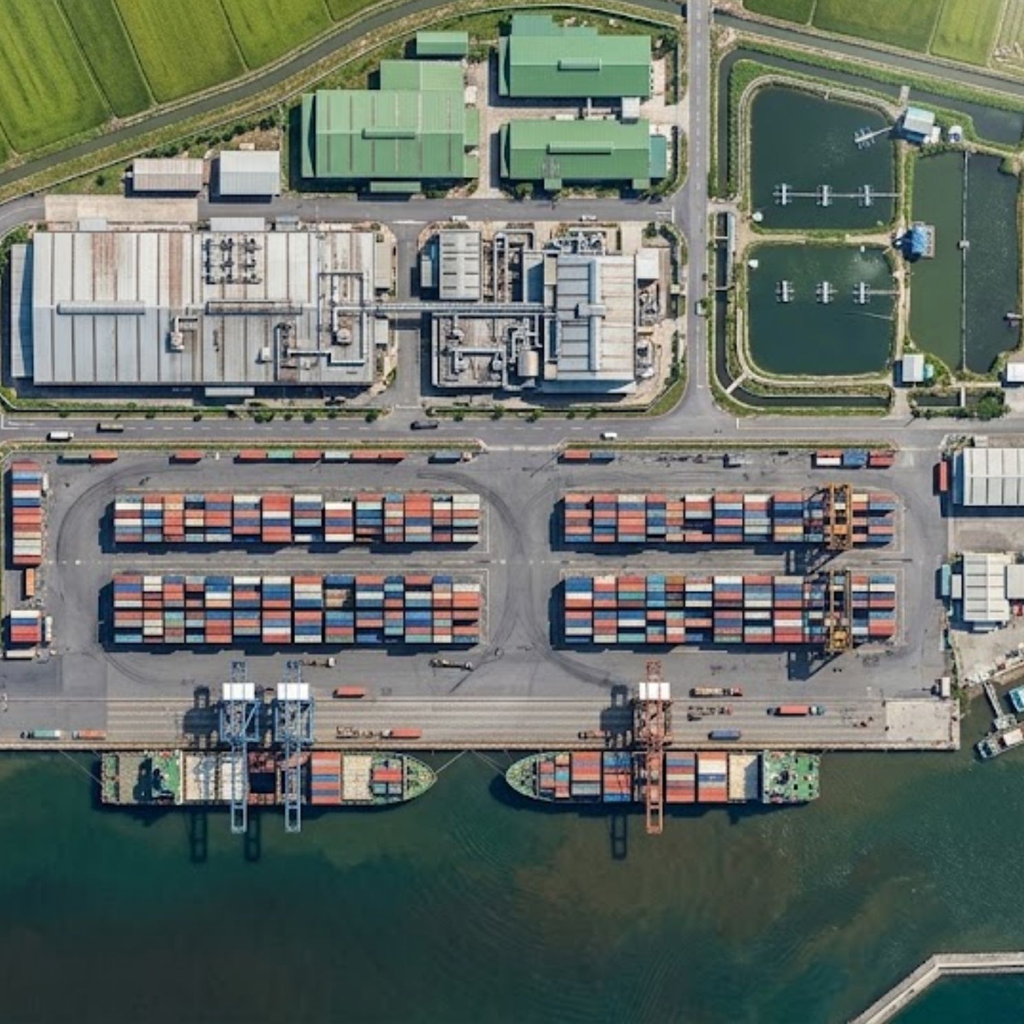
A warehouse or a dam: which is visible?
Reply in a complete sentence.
It is a warehouse that can be seen here.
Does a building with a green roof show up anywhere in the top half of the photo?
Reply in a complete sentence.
Yes, I can see a building with a green roof in the top half of the photo.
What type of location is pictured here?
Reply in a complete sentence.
This looks like a port.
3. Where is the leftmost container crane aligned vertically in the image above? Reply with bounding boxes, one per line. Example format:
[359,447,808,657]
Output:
[216,662,262,834]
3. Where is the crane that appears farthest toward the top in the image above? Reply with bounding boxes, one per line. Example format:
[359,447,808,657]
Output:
[823,483,856,550]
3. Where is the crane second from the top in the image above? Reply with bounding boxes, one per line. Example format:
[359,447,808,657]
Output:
[823,570,856,652]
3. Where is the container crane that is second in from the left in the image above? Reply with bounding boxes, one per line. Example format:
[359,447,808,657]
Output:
[270,662,315,834]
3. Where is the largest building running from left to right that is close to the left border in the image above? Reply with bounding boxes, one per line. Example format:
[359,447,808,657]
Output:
[11,217,390,396]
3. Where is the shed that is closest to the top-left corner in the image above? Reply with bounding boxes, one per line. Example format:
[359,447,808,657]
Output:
[128,159,202,190]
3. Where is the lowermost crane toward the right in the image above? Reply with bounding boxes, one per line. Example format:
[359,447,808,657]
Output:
[632,662,677,834]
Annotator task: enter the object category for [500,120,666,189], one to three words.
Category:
building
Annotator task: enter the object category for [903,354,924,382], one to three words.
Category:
shed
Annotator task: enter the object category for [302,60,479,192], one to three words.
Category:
warehouse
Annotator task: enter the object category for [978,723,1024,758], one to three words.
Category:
boat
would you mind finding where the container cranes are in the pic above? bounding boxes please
[270,662,315,834]
[216,662,262,834]
[823,570,856,652]
[632,662,677,834]
[823,483,856,550]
